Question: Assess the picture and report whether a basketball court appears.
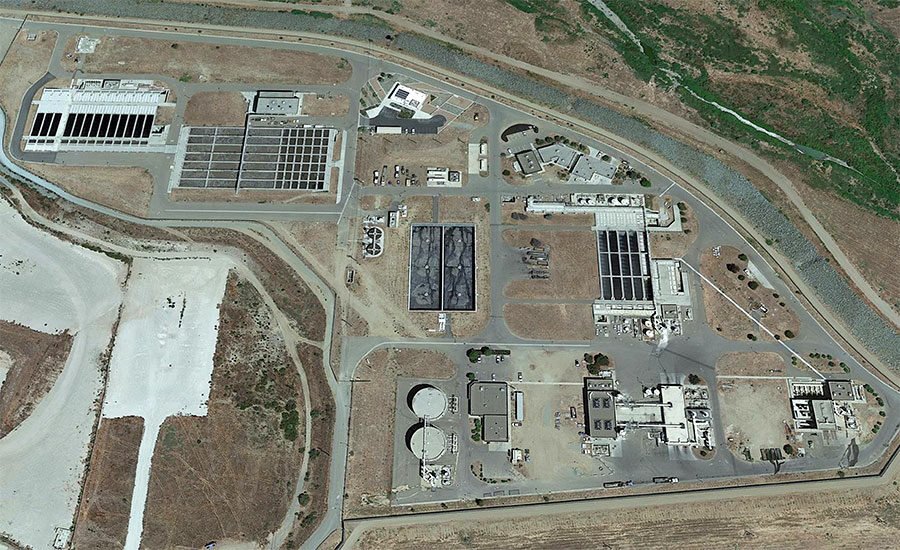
No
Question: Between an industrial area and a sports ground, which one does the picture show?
industrial area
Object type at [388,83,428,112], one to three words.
building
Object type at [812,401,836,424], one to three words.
building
